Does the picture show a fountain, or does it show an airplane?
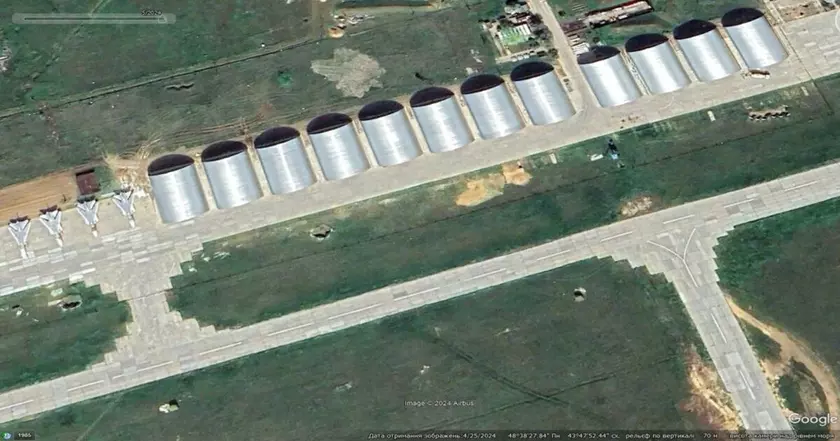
airplane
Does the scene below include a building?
Yes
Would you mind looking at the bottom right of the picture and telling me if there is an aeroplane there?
No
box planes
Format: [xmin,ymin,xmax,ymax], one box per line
[41,207,63,248]
[77,196,99,237]
[8,219,30,260]
[112,188,134,229]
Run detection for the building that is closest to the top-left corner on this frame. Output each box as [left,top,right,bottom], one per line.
[75,170,101,197]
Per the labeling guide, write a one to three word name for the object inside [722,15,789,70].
hangar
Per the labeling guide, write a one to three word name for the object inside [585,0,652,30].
shed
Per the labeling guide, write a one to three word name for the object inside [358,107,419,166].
hangar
